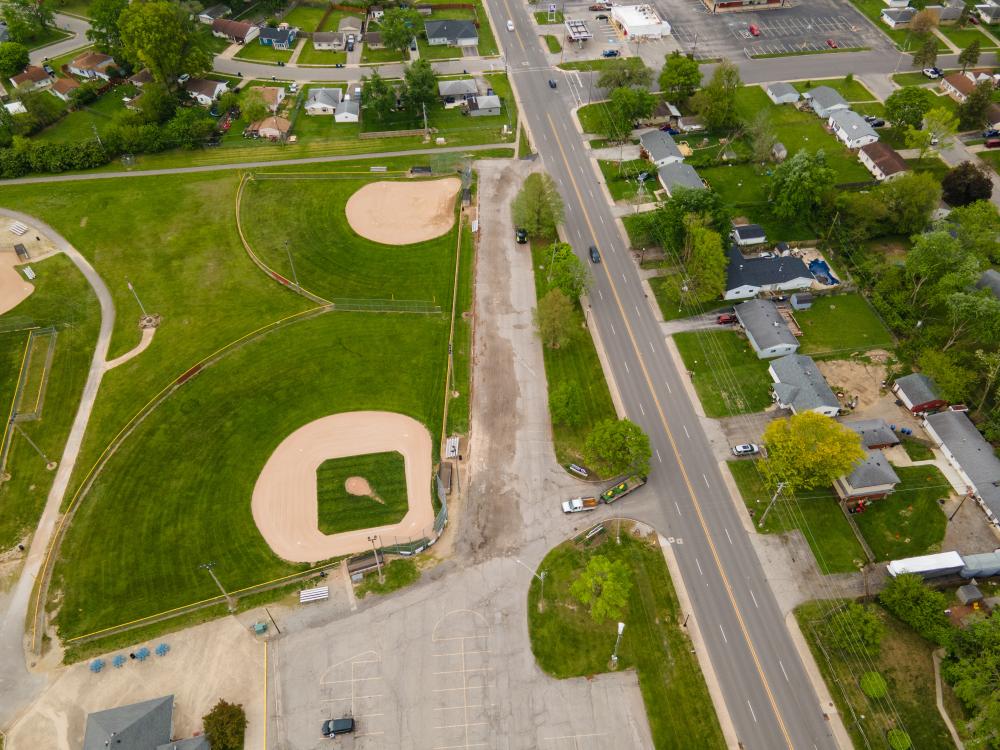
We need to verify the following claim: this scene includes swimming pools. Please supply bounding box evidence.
[802,251,842,292]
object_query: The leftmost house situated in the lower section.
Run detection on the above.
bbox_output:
[76,688,206,750]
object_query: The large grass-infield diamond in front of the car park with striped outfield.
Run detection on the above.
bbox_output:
[47,306,450,651]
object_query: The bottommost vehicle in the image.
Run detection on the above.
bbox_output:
[318,716,351,735]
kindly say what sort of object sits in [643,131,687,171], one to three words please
house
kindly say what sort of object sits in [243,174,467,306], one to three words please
baseball field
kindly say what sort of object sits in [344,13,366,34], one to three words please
building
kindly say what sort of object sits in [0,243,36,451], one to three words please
baseball field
